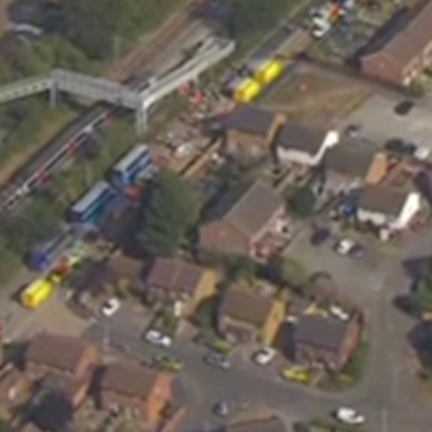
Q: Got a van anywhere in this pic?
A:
Yes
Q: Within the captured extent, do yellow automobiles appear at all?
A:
Yes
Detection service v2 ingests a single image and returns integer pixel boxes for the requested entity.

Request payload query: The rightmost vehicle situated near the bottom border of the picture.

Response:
[333,407,365,424]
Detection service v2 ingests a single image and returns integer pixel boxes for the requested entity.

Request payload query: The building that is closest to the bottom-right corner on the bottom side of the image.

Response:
[293,309,364,374]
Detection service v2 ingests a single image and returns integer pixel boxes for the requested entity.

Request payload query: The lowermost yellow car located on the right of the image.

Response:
[280,365,310,384]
